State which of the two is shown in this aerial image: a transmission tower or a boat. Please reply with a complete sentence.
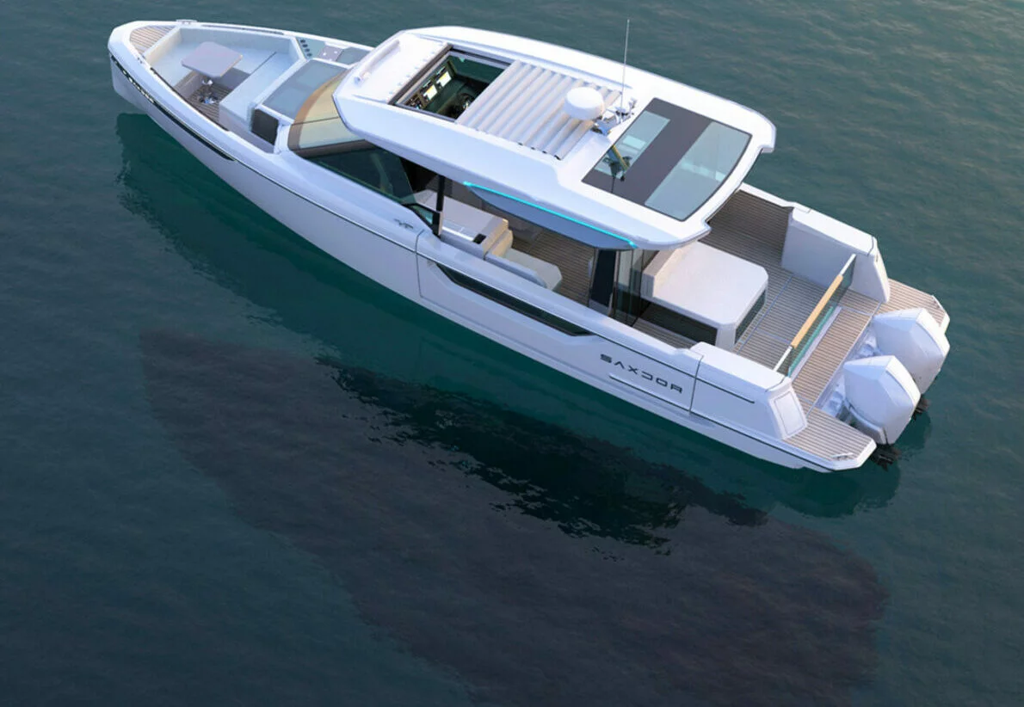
There is a boat in the scene.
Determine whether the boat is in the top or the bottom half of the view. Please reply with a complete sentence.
The top half of the photo is where the boat is.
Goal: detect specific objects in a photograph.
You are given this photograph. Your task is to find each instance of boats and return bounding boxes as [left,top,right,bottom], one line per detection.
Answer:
[103,17,954,473]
